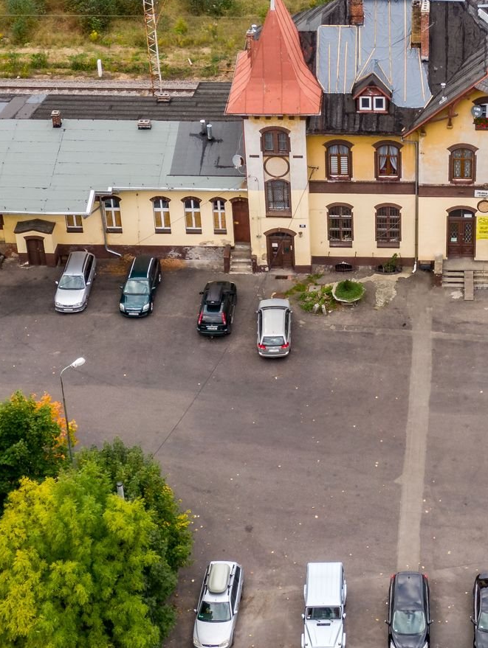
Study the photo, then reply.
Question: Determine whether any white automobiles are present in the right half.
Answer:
Yes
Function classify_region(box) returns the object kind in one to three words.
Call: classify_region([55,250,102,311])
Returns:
car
